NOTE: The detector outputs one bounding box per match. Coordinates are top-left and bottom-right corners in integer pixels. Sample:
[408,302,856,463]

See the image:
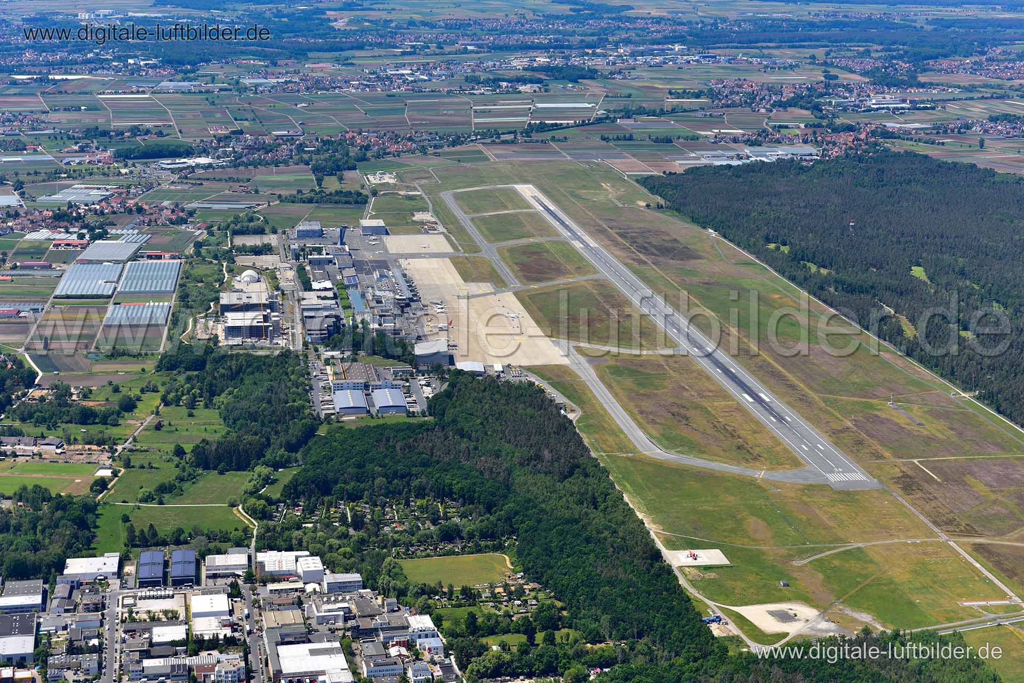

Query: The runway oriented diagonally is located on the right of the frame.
[510,184,884,491]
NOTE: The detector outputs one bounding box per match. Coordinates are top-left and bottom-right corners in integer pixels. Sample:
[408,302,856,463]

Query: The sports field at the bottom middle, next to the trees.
[398,555,511,590]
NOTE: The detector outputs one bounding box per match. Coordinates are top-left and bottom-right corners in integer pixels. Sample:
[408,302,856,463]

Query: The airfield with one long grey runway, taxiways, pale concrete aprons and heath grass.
[319,159,1024,683]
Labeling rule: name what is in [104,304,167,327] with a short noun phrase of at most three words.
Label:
greenhouse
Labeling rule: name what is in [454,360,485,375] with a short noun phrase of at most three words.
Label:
hangar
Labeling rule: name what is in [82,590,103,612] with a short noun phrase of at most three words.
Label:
house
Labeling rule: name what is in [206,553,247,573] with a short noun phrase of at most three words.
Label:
building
